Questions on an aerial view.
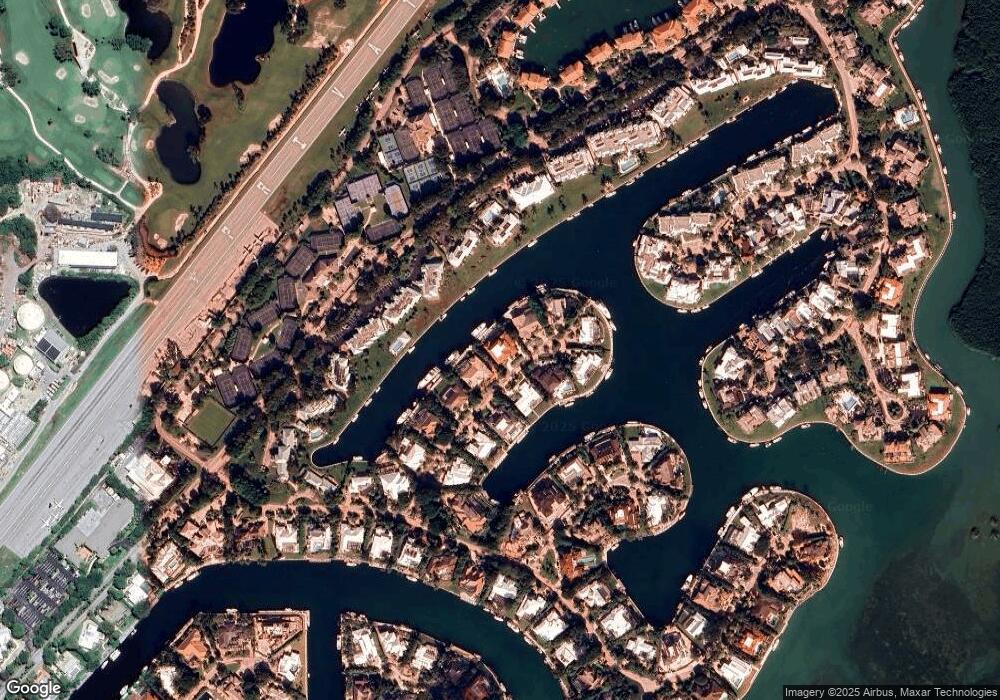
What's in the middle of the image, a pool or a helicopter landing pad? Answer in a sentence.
The feature located in the middle of the image is a pool.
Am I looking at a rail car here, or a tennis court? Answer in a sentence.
Visible in the photo is a tennis court.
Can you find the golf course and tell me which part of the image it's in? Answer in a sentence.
The golf course is located in the top left region of the scene.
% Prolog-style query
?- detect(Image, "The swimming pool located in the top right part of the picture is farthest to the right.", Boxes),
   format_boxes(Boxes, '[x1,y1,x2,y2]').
[894,105,921,129]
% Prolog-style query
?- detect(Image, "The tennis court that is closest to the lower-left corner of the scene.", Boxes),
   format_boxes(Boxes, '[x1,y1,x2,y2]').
[215,365,257,405]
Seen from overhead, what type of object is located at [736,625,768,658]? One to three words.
house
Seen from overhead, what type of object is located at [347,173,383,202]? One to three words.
tennis court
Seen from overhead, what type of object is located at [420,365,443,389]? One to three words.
boat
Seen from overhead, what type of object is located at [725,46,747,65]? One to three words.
swimming pool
